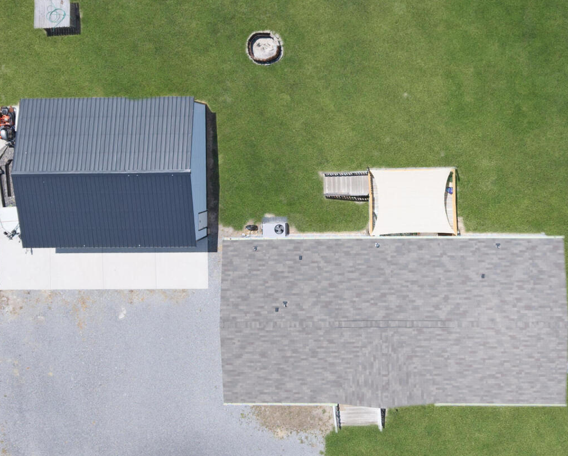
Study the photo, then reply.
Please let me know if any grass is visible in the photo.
Yes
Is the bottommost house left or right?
right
